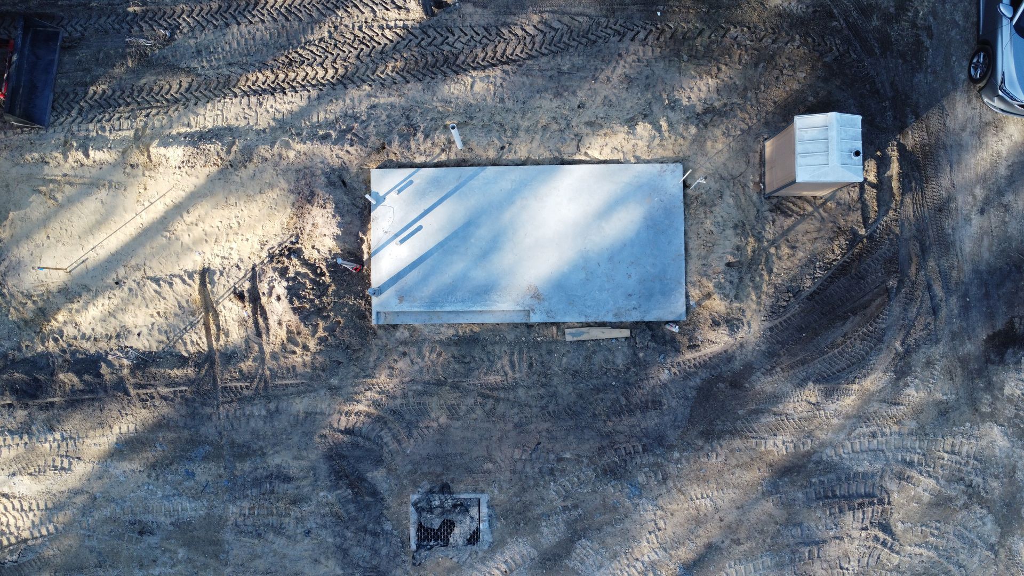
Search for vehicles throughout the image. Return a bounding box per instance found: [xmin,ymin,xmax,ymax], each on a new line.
[972,0,1024,121]
[0,18,62,129]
